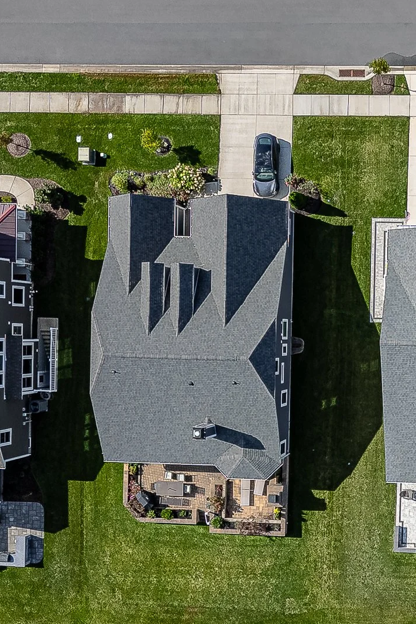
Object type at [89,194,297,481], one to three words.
house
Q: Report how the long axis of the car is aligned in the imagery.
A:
up and down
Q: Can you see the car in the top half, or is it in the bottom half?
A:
top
